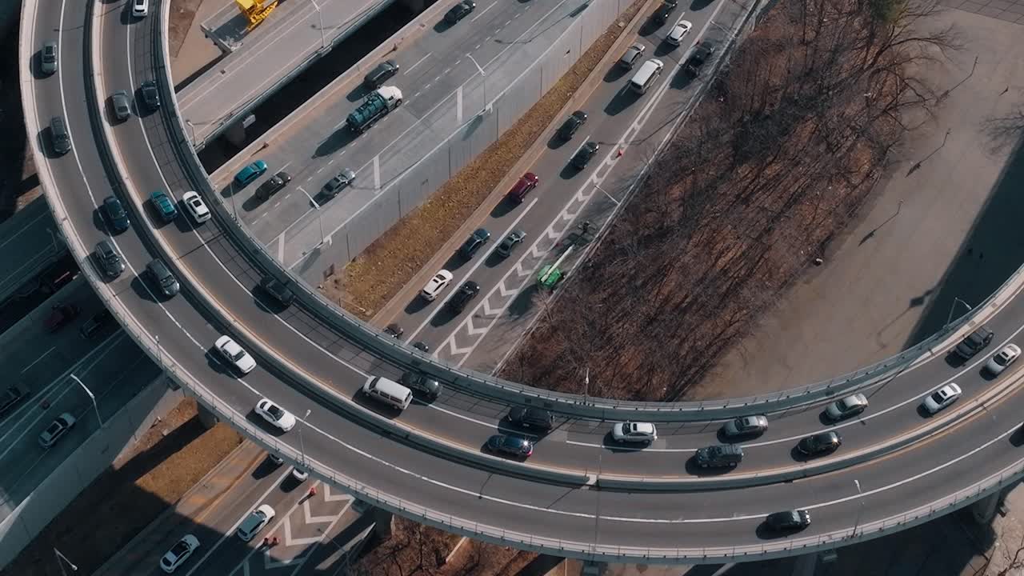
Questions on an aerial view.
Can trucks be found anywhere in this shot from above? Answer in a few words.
Yes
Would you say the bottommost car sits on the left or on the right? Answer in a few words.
left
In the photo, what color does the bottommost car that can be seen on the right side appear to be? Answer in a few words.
black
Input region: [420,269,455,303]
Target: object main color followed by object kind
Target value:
white car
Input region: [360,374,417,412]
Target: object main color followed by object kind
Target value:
white van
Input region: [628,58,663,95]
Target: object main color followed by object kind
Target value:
white van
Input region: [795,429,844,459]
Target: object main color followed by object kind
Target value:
black car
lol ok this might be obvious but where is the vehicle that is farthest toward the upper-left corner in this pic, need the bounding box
[39,41,59,76]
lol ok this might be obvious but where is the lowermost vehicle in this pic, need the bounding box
[159,533,200,573]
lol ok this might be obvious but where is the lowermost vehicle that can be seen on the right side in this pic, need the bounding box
[760,509,810,535]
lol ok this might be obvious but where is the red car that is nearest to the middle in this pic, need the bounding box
[506,171,540,204]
